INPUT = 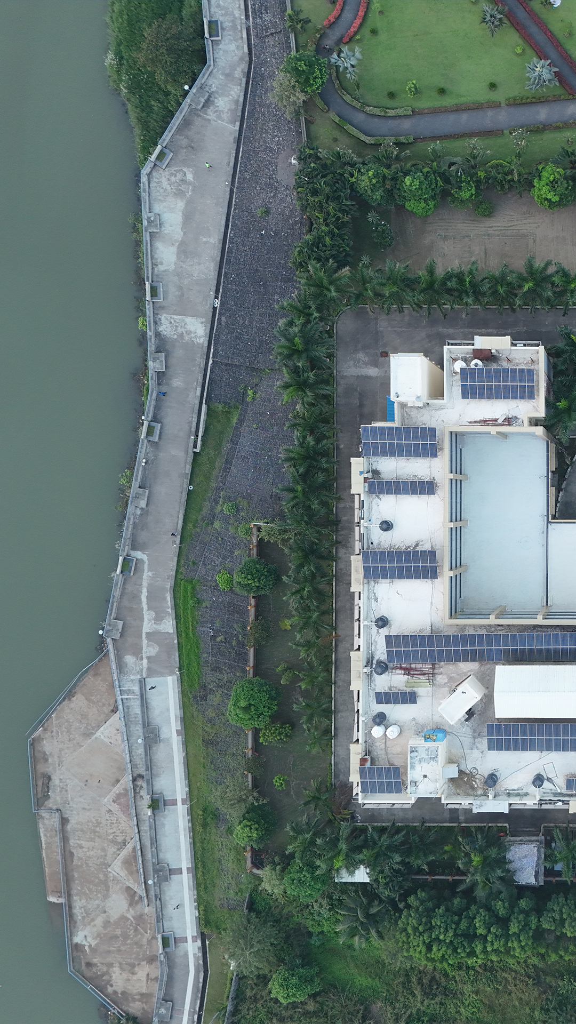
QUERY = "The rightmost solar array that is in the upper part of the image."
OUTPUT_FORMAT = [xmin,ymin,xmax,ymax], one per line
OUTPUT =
[460,368,534,400]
